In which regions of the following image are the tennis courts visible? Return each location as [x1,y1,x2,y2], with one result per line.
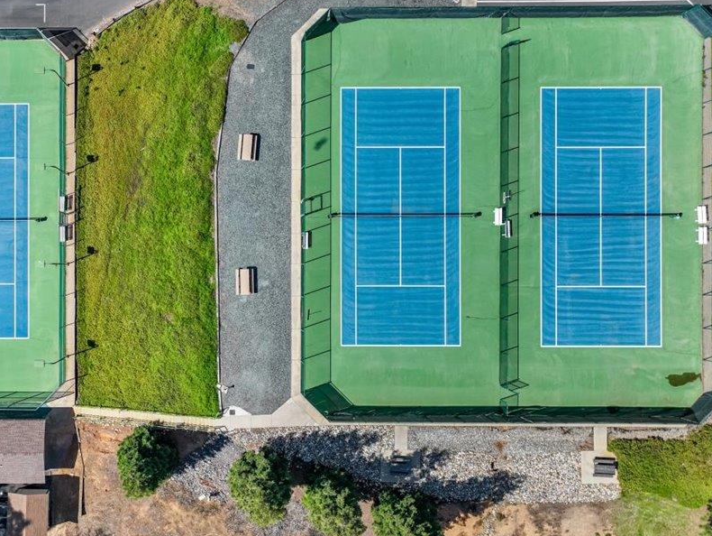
[0,41,63,400]
[304,20,501,413]
[501,20,702,413]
